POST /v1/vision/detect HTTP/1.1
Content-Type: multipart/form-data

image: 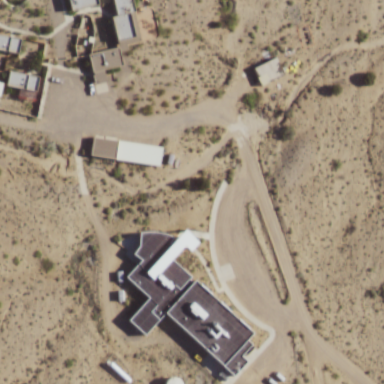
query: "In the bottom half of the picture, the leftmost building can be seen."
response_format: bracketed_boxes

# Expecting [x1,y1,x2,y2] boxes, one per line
[127,230,196,335]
